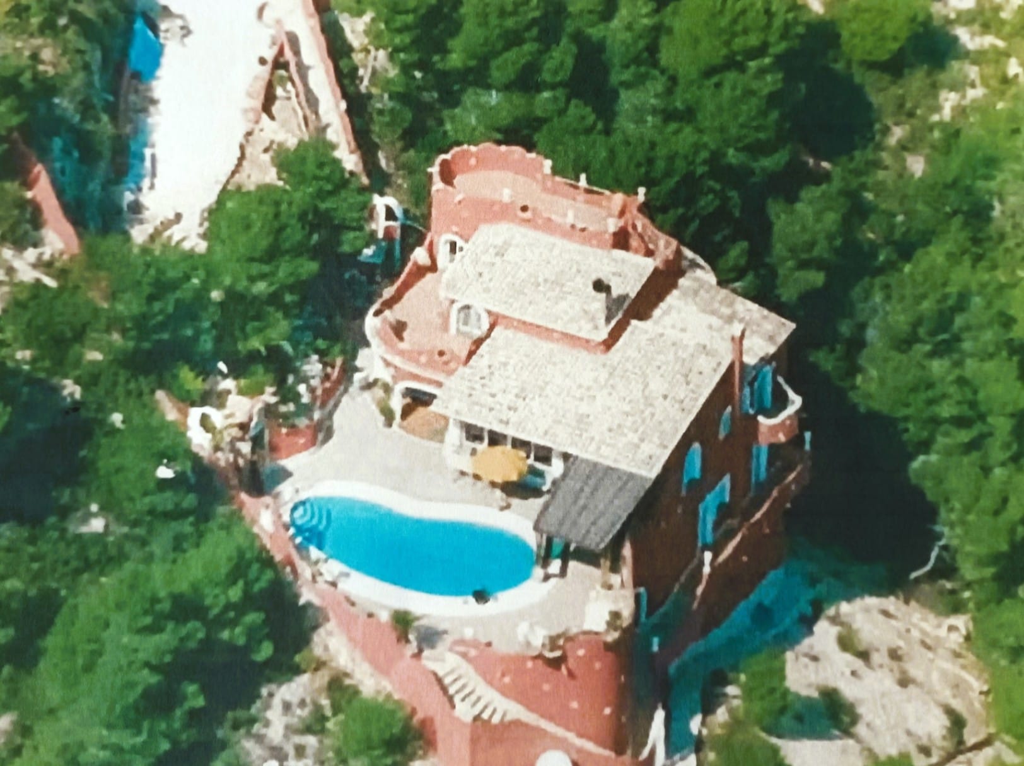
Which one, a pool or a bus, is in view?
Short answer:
pool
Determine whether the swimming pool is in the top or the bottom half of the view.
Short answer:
bottom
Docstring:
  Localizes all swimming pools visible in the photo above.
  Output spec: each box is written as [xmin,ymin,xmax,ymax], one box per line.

[280,481,557,615]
